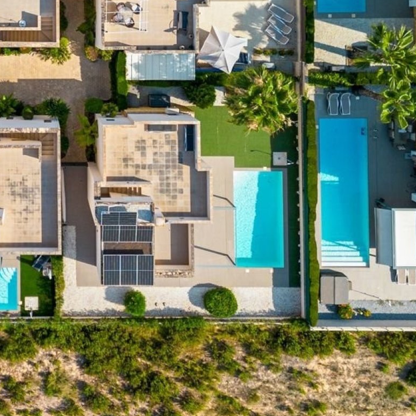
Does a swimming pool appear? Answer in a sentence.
Yes, the image includes a swimming pool.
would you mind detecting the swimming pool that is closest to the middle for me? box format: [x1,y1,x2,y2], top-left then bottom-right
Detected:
[233,170,285,269]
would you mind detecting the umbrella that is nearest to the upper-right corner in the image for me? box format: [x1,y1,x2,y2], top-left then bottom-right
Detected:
[196,26,247,74]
